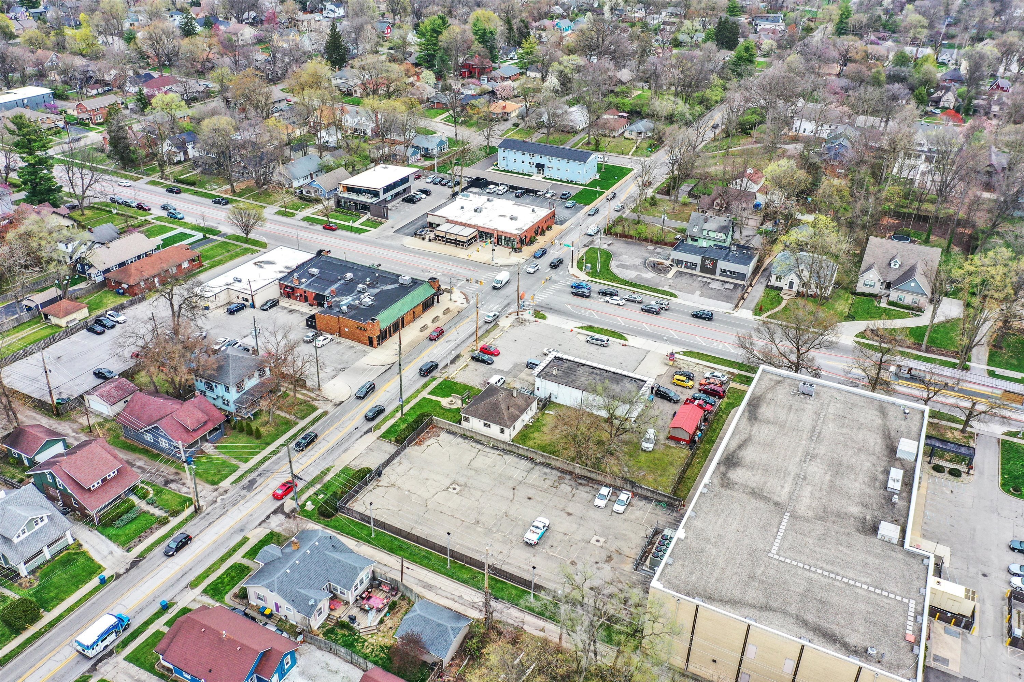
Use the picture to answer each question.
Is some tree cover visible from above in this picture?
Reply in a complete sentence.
Yes, some tree cover is visible.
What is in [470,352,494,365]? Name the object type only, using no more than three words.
vehicle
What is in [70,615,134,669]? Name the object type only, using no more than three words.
vehicle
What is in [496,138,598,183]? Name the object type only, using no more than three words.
building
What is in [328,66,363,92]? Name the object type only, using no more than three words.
house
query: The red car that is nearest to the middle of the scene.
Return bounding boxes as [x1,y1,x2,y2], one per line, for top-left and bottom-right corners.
[478,345,500,357]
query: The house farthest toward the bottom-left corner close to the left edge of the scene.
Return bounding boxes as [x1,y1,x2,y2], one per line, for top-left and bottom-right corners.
[0,487,83,589]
